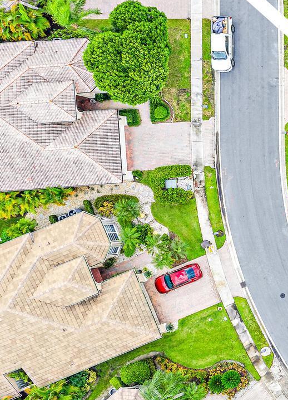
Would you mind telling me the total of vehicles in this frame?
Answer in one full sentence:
The picture shows 2 vehicles.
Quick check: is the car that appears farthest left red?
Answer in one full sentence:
Yes, the car that appears farthest left is indeed red.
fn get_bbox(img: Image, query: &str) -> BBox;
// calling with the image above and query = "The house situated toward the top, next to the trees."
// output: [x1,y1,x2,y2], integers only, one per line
[0,37,128,191]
